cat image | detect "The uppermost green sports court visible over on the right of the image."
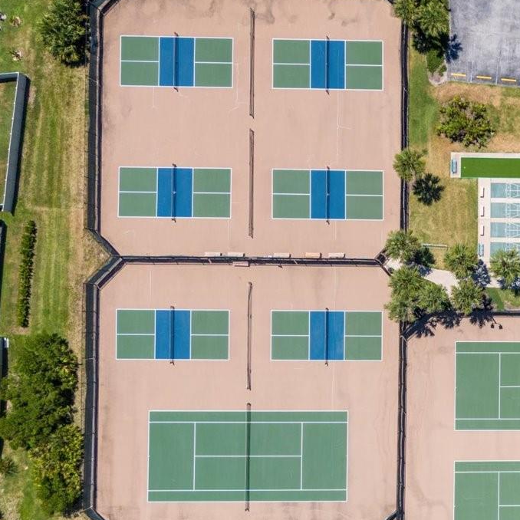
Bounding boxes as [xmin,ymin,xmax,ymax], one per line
[272,36,382,96]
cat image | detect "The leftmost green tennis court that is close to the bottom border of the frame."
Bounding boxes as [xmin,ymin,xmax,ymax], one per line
[147,403,349,512]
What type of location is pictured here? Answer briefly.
sports ground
